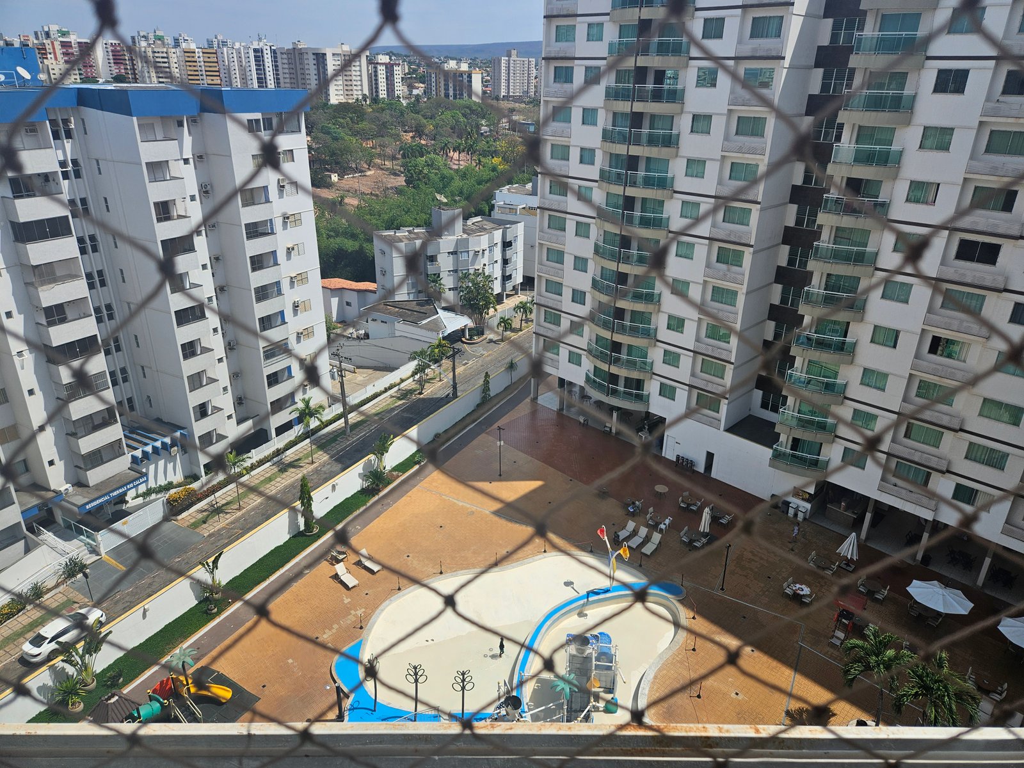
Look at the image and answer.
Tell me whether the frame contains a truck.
No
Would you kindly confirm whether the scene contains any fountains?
Yes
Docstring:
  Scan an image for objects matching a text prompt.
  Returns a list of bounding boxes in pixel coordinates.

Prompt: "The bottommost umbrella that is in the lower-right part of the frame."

[989,610,1024,664]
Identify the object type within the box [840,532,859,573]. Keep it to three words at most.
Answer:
umbrella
